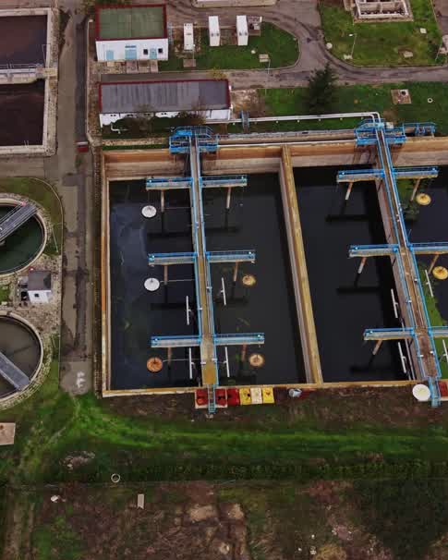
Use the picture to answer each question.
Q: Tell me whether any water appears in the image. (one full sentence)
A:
Yes, water shows up in the scene.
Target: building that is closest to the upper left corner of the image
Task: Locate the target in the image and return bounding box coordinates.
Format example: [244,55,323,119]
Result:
[96,3,169,72]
